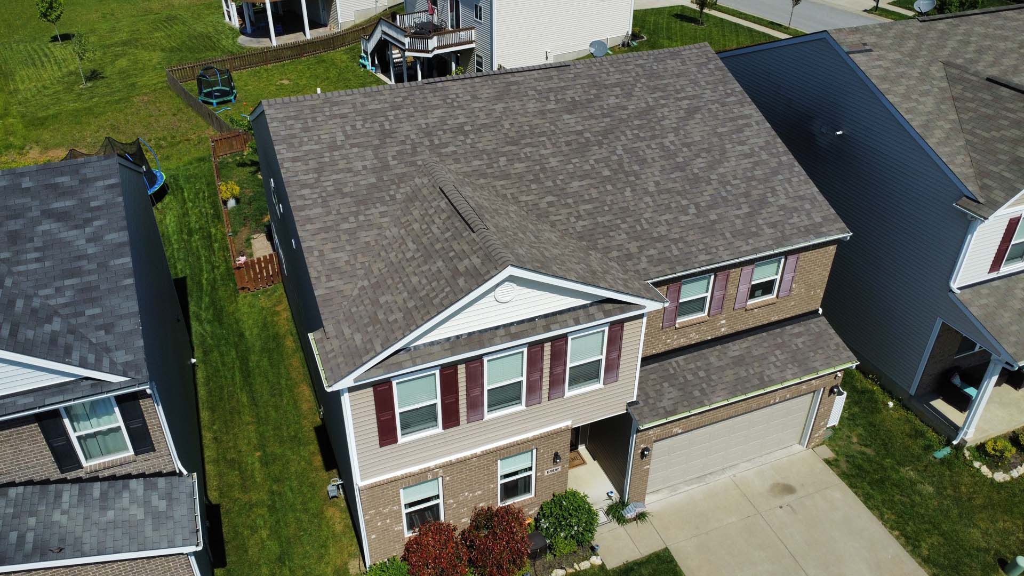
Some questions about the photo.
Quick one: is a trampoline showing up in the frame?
Yes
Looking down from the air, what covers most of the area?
buildings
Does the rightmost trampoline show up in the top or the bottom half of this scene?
top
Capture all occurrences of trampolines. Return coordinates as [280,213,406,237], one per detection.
[59,128,170,211]
[193,66,237,107]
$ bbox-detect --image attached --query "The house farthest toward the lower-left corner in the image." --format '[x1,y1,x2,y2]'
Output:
[0,150,212,576]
